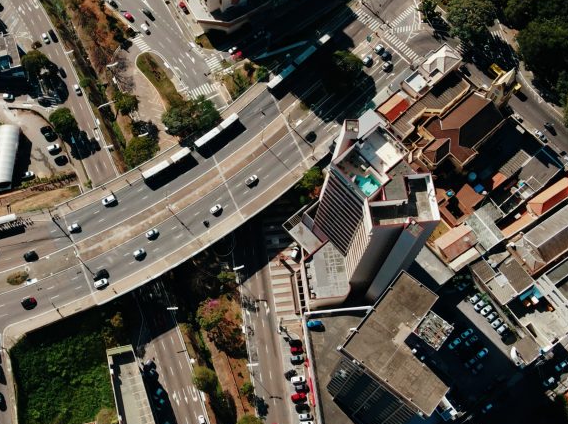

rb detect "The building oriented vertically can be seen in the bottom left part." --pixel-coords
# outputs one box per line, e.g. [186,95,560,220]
[107,345,154,424]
